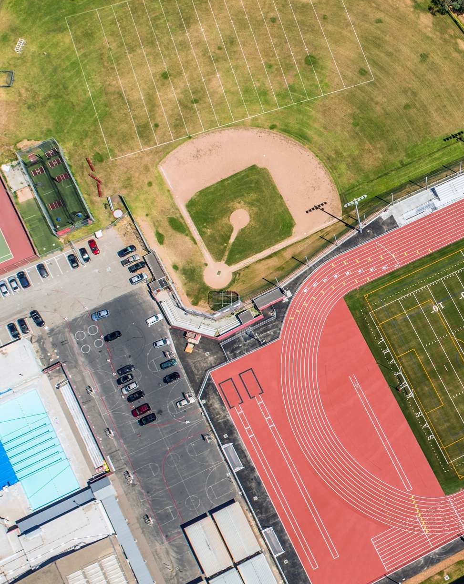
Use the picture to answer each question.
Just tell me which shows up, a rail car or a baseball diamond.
baseball diamond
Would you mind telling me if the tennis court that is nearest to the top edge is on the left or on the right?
left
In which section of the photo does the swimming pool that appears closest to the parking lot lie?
bottom left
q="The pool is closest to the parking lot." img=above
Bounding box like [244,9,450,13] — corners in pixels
[0,389,81,512]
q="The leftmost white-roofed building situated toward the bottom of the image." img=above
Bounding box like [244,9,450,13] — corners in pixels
[0,339,48,396]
